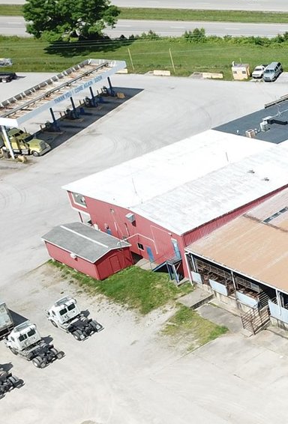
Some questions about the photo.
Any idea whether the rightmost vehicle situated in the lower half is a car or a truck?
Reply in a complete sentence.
What you see as the rightmost vehicle situated in the lower half is a truck.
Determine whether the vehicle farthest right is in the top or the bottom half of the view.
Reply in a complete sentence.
The vehicle farthest right sits in the top half of the picture.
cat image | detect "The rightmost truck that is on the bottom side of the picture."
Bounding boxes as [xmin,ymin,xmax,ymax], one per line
[44,294,104,342]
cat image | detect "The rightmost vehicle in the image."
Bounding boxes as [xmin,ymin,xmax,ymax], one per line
[266,58,287,77]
